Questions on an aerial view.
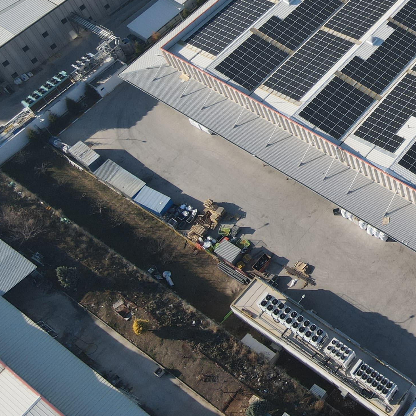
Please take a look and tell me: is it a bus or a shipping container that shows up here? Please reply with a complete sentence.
Looking from above, you can make out a shipping container.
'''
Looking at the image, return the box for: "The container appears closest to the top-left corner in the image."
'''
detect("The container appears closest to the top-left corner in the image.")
[69,140,104,173]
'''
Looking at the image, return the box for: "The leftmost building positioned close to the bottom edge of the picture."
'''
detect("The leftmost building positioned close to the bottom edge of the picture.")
[0,298,148,416]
